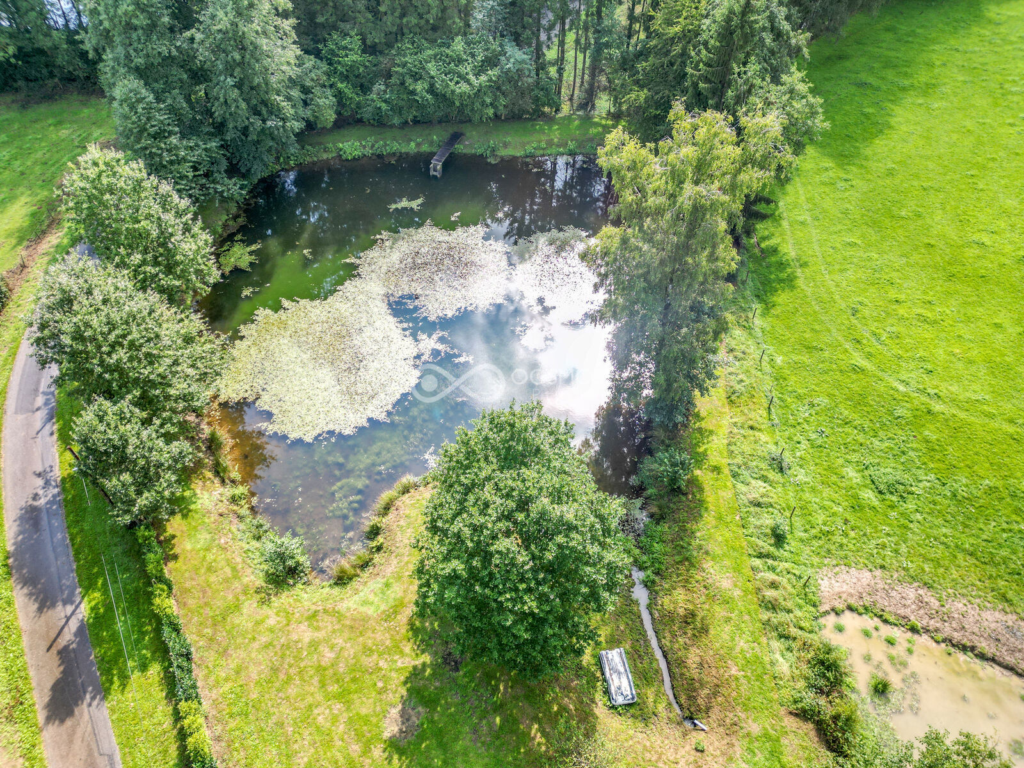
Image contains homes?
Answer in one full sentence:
No, no home is visible in the scene.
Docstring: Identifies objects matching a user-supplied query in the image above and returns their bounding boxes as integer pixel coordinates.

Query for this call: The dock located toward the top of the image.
[430,132,463,172]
